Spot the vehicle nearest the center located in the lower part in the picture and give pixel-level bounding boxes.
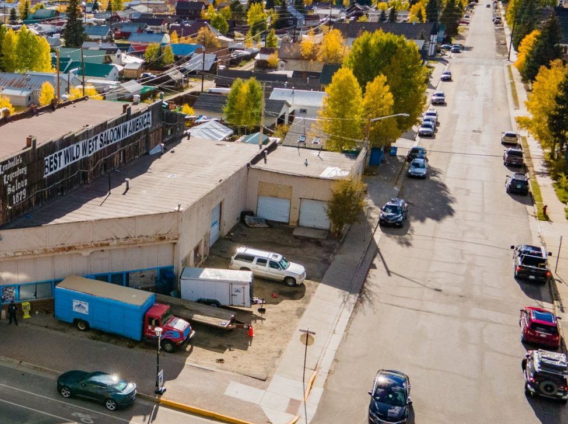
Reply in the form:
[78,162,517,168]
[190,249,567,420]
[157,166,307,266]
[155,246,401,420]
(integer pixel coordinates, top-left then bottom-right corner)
[228,243,301,284]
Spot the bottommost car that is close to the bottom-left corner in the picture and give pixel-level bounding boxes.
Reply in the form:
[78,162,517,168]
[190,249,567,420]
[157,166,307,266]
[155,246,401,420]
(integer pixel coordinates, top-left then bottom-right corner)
[54,370,139,414]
